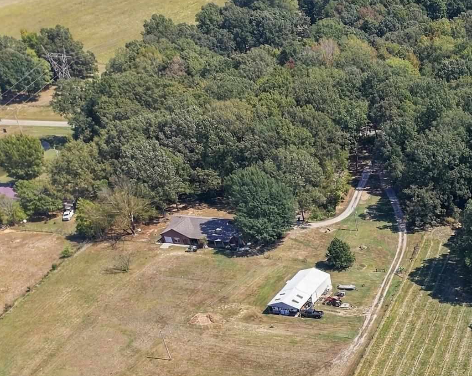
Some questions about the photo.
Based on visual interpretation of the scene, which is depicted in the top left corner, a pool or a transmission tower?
transmission tower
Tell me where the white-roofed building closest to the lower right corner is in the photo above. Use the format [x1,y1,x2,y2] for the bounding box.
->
[267,269,331,318]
